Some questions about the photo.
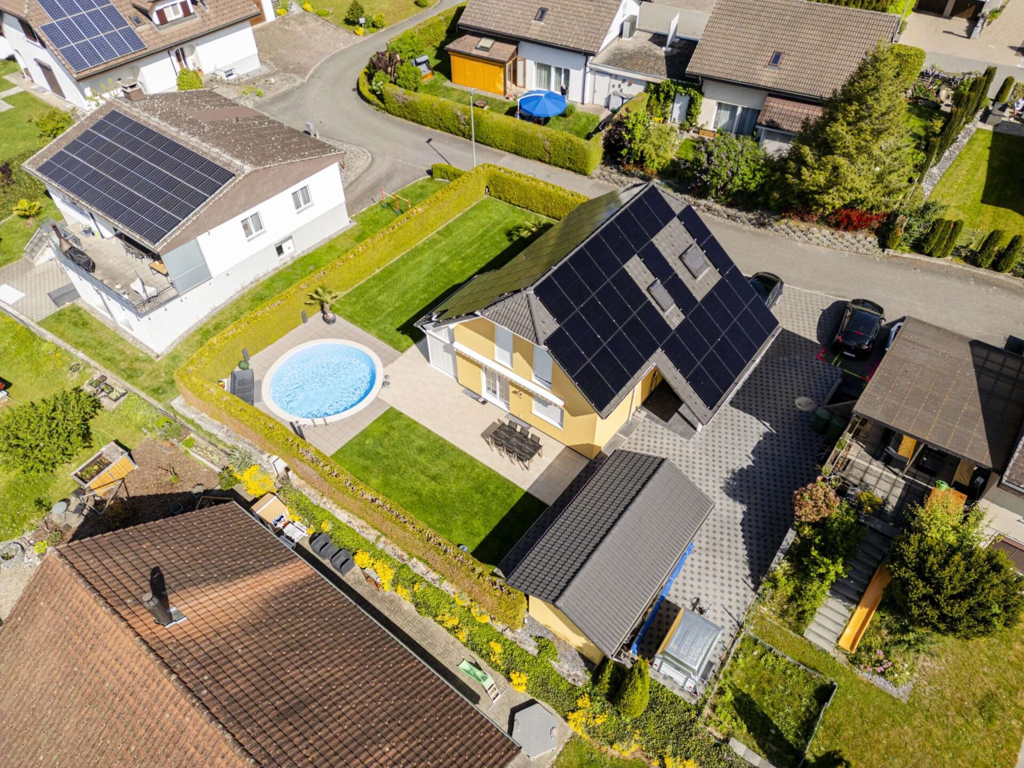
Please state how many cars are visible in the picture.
3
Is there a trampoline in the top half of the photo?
No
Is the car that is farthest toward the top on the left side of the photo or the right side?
right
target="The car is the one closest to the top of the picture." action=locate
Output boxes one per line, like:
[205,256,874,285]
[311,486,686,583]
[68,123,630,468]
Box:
[750,263,797,314]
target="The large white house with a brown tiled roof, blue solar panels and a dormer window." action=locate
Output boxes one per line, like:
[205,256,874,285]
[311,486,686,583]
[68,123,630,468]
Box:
[0,0,281,116]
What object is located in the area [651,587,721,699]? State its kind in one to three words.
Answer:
trailer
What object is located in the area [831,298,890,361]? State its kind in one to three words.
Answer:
car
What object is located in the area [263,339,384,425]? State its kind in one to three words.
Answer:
swimming pool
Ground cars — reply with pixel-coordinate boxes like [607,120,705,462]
[750,263,797,314]
[831,298,890,361]
[878,314,907,365]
